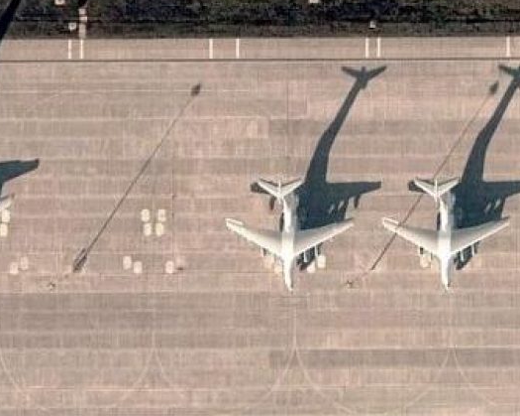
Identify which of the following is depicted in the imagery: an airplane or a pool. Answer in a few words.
airplane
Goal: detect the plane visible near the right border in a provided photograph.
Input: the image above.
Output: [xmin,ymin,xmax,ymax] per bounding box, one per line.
[382,177,510,289]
